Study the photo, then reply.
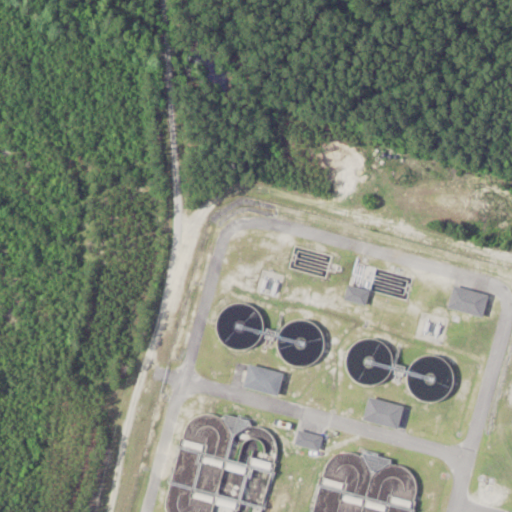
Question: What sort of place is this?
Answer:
industrial area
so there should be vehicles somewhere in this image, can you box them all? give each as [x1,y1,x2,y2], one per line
[308,451,322,457]
[276,422,292,430]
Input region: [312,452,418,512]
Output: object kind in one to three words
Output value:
water tank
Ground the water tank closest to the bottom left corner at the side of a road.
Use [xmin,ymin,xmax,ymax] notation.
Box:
[168,413,278,512]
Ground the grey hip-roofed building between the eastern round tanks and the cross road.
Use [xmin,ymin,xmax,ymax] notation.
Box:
[364,398,404,428]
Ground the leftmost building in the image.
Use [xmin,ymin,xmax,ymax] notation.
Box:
[243,365,283,396]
